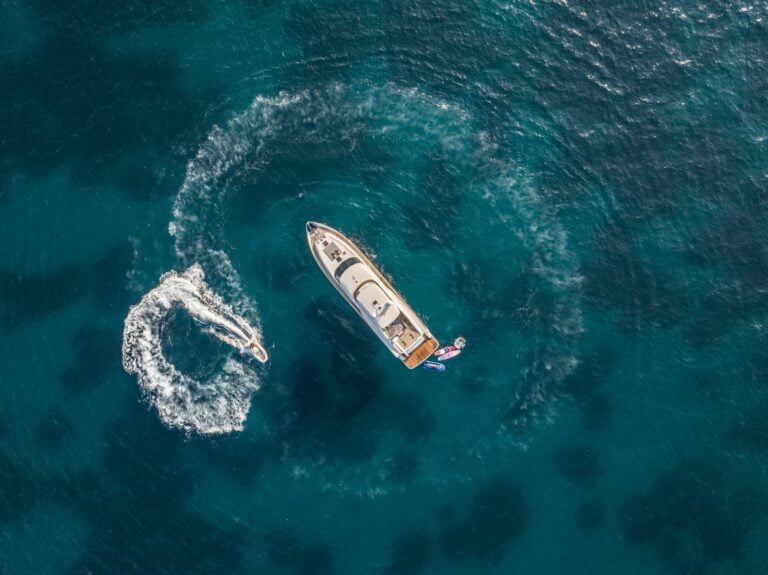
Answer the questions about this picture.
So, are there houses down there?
No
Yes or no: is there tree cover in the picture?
No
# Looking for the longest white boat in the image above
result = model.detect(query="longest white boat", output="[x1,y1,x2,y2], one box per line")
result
[305,220,437,367]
